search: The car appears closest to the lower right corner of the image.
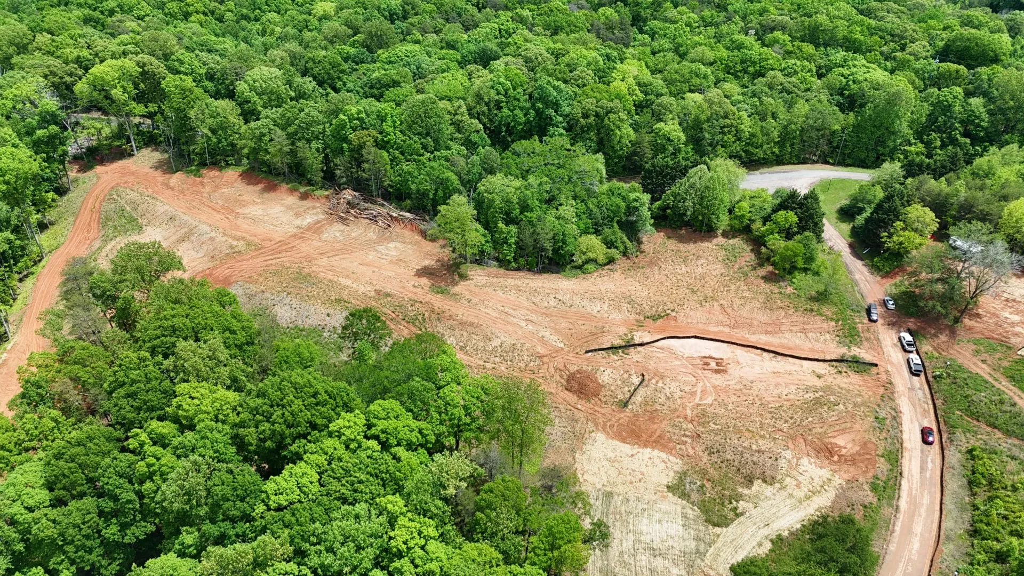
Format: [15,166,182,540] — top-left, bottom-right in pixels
[922,425,936,445]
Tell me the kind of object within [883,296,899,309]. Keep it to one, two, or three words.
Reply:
vehicle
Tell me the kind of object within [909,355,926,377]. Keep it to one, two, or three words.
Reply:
vehicle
